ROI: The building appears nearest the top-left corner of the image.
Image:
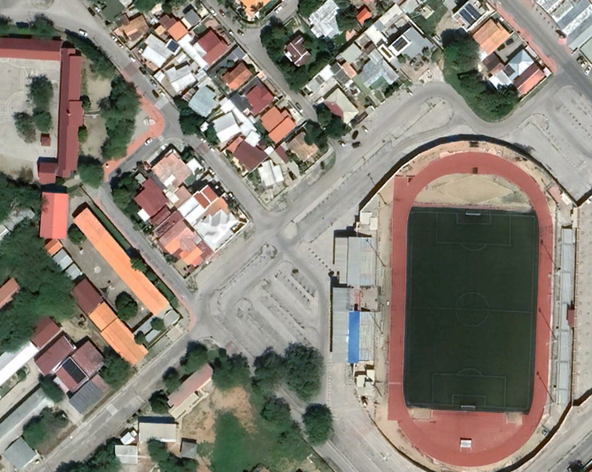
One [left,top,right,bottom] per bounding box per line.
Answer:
[0,37,63,61]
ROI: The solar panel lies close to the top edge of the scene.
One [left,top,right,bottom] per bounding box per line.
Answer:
[459,2,480,24]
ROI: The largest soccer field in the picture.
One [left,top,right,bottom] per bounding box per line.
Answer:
[403,208,539,413]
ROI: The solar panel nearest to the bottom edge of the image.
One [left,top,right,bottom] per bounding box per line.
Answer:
[61,360,86,386]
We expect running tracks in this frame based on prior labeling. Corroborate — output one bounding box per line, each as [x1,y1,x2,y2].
[388,151,552,467]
